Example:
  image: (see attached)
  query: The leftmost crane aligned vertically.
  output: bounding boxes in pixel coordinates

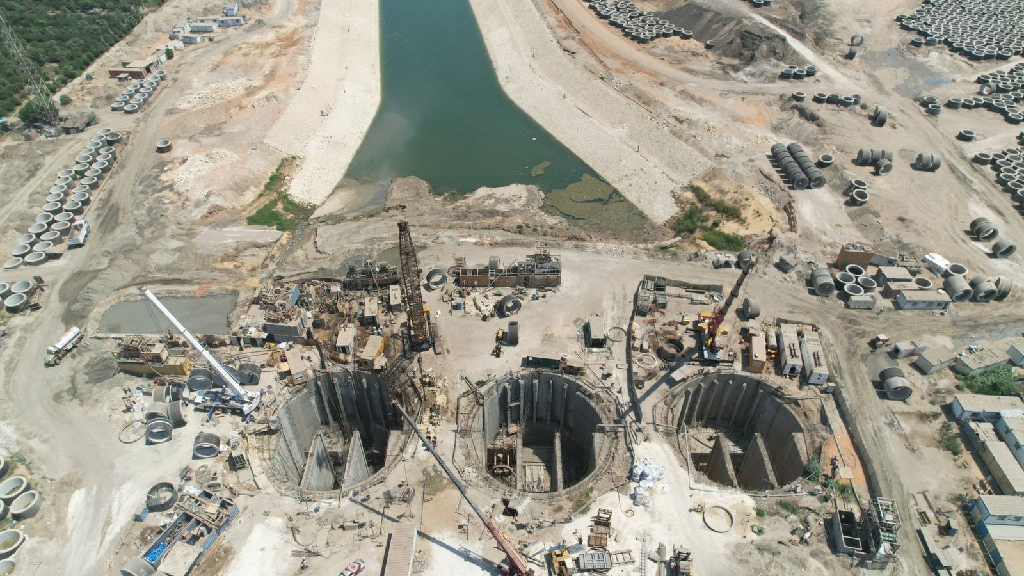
[399,220,441,428]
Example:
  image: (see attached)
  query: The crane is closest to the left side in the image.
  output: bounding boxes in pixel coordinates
[135,282,270,436]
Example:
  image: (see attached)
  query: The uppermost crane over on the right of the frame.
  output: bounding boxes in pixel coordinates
[680,256,756,378]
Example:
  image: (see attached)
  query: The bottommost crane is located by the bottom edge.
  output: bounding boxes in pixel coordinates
[390,400,554,576]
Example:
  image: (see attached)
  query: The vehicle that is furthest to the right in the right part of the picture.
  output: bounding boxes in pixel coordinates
[870,330,894,349]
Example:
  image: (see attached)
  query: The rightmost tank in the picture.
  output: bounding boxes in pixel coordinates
[821,499,868,561]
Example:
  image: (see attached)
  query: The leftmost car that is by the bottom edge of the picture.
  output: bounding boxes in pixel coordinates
[337,555,369,576]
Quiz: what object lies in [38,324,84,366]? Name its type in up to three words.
truck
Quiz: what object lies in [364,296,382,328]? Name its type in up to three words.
building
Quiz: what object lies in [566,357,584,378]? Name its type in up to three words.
shed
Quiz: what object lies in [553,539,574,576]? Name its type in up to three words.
work vehicle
